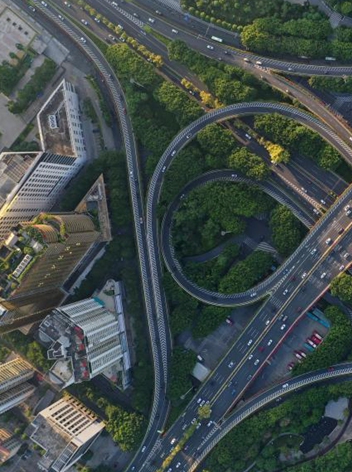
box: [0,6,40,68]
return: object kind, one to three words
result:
building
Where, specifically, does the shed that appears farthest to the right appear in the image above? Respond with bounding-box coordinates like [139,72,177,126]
[191,360,215,381]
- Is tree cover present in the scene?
Yes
